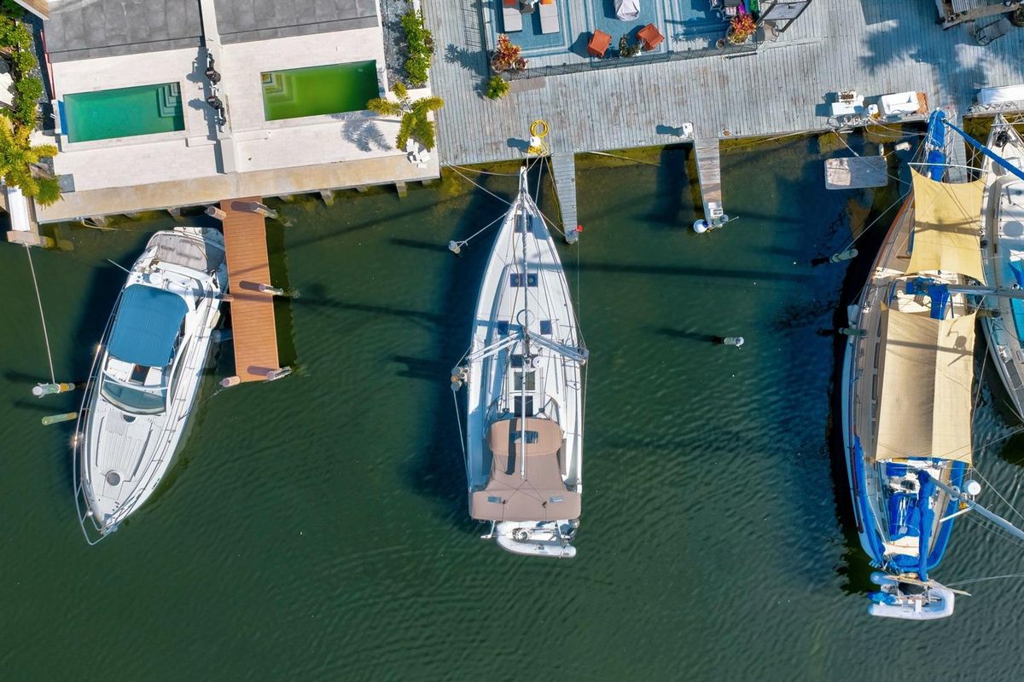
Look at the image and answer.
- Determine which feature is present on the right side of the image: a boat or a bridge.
boat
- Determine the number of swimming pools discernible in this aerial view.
2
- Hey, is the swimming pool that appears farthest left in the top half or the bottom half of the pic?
top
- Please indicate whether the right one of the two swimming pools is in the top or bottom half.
top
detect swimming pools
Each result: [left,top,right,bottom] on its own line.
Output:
[254,52,387,128]
[56,74,193,150]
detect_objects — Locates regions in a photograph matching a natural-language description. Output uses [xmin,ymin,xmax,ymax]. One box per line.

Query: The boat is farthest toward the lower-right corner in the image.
[865,571,955,621]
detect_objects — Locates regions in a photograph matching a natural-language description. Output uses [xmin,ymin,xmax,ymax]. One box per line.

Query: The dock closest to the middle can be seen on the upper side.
[550,152,580,244]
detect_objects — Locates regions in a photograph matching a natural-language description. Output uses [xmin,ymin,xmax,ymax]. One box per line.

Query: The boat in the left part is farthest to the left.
[73,227,230,545]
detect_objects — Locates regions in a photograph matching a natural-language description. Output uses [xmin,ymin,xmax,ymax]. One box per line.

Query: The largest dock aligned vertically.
[220,198,282,383]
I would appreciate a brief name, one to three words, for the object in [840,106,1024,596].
boat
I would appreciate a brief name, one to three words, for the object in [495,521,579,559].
boat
